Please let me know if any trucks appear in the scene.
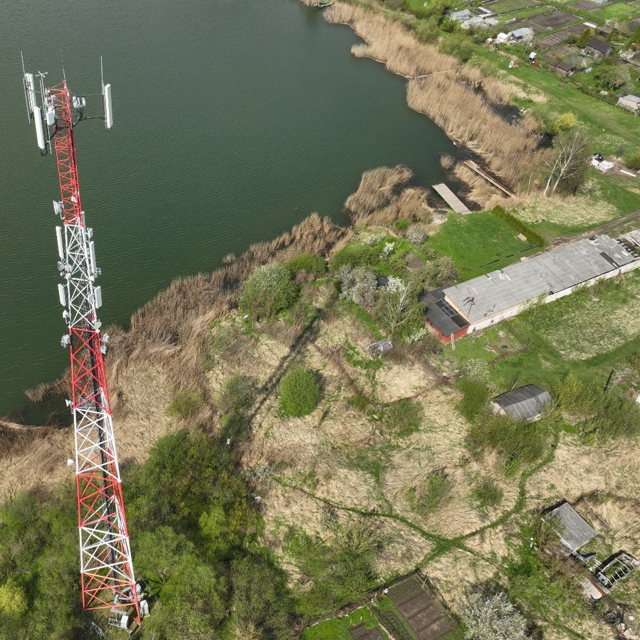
No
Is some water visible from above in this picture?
Yes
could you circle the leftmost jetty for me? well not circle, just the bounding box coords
[432,184,470,215]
